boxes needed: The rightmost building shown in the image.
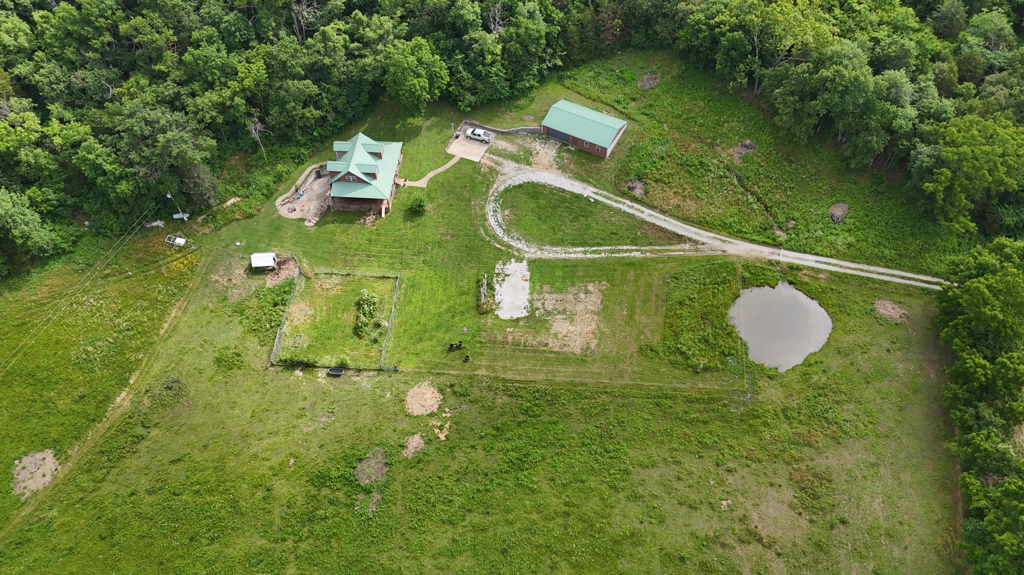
[541,95,627,158]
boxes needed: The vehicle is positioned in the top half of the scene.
[463,130,492,145]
